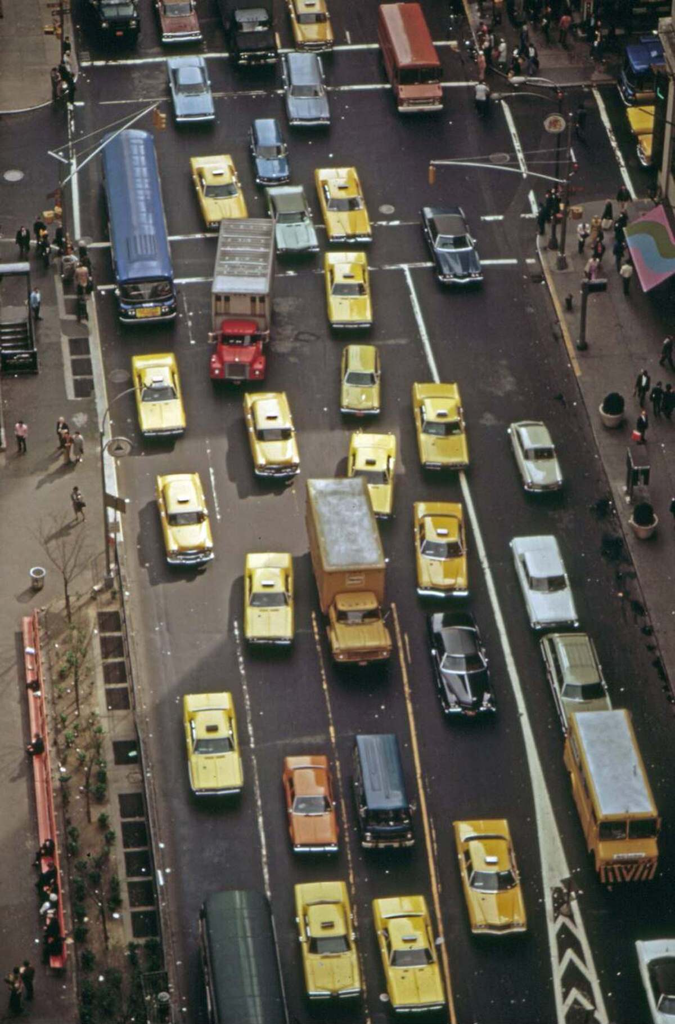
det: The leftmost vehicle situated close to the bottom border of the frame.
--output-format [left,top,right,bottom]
[206,894,289,1024]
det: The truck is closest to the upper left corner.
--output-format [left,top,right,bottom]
[93,0,141,45]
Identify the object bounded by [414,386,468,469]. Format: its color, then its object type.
yellow car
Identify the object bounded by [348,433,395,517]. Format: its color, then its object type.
yellow car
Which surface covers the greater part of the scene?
paved ground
